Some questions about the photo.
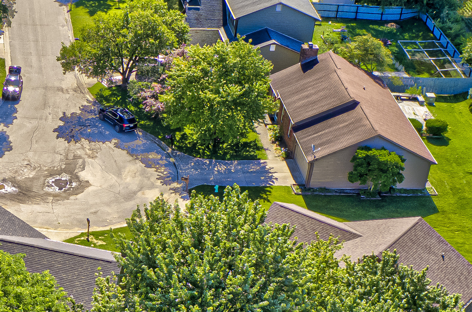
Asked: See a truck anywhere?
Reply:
No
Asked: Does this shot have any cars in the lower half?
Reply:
No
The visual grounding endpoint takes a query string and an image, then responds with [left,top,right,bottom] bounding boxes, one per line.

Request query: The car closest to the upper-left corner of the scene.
[3,60,25,98]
